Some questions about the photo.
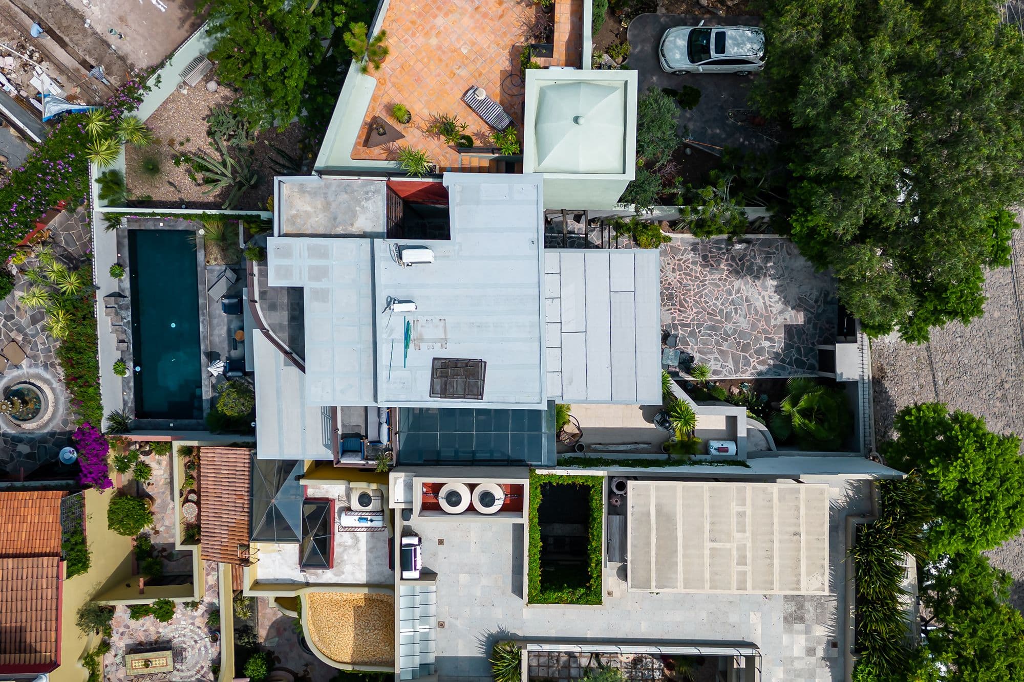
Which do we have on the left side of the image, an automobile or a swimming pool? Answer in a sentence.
Looking on the left side of the image, you will find a swimming pool.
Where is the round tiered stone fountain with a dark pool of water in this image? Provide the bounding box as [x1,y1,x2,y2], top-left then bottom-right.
[0,359,66,447]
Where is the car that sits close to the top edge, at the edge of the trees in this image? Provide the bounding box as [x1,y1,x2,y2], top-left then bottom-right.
[660,19,770,78]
